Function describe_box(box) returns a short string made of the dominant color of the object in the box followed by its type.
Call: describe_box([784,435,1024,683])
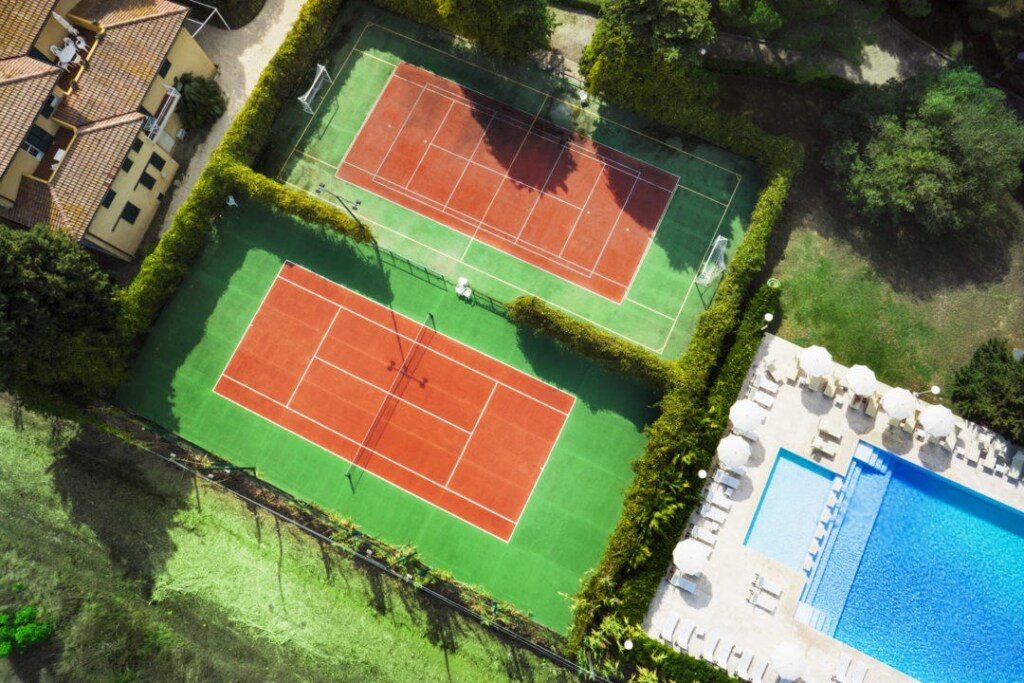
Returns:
blue swimming pool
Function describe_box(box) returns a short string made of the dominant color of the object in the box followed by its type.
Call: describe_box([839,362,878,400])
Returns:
white umbrella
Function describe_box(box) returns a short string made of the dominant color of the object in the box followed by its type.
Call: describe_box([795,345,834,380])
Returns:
white umbrella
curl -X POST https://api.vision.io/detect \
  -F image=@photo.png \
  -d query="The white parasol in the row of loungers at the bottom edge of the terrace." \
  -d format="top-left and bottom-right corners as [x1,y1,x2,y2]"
[768,636,809,678]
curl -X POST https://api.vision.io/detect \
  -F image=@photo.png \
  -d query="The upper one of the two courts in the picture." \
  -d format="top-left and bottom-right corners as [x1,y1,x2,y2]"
[258,10,757,370]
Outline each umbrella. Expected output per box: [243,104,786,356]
[670,536,709,576]
[839,362,878,400]
[768,636,809,678]
[877,385,917,423]
[725,398,763,435]
[916,401,957,439]
[795,345,834,380]
[713,432,752,469]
